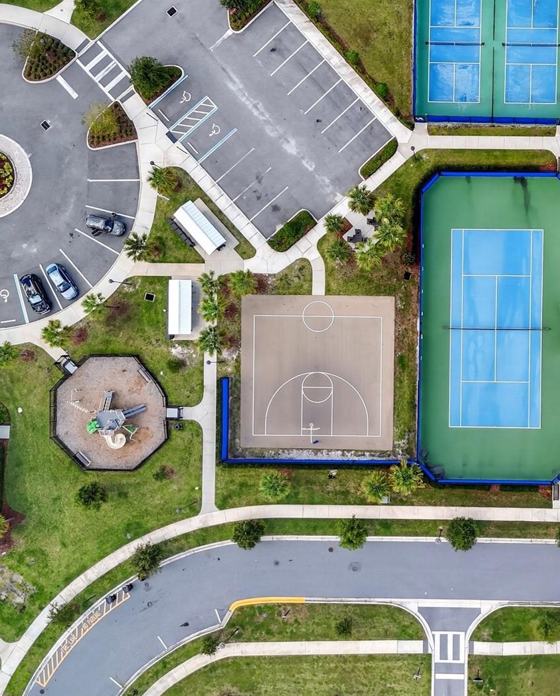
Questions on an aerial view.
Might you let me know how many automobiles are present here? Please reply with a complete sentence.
There are 3 automobiles in the image.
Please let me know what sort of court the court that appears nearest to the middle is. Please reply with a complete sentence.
The court that appears nearest to the middle in the image is a basketball court.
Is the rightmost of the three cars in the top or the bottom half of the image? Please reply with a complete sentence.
The rightmost of the three cars sits in the top half of the picture.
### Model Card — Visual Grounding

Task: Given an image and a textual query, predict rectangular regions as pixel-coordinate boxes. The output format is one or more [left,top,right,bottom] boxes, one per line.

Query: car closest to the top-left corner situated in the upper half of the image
[85,215,129,240]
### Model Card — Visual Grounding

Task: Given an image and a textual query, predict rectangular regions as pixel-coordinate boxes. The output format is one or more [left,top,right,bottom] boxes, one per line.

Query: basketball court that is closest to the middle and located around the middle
[240,295,395,450]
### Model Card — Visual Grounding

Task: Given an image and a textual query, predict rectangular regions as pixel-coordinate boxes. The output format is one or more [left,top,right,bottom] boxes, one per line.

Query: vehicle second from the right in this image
[46,262,79,300]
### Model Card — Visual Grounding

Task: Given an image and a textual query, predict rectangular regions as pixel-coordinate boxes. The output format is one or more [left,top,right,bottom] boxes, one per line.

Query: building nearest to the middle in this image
[168,279,197,334]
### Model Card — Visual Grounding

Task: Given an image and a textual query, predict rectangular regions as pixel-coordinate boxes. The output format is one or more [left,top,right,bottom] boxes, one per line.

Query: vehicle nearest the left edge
[19,272,53,314]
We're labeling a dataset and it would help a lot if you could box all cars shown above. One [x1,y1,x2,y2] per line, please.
[46,262,79,300]
[85,215,129,240]
[19,272,53,314]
